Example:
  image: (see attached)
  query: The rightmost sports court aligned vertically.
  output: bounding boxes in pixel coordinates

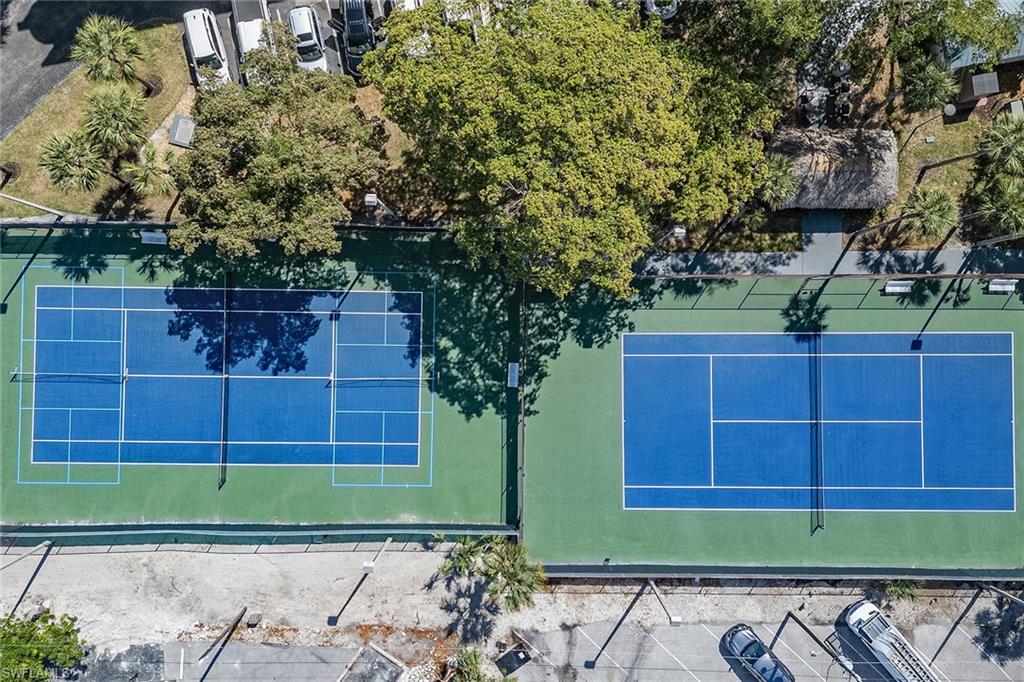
[333,270,436,487]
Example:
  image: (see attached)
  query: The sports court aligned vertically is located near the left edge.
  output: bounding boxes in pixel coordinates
[17,265,124,485]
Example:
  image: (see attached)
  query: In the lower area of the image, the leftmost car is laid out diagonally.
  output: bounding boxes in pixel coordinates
[723,622,789,682]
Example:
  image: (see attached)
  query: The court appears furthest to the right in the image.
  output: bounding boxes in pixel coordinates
[524,279,1024,566]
